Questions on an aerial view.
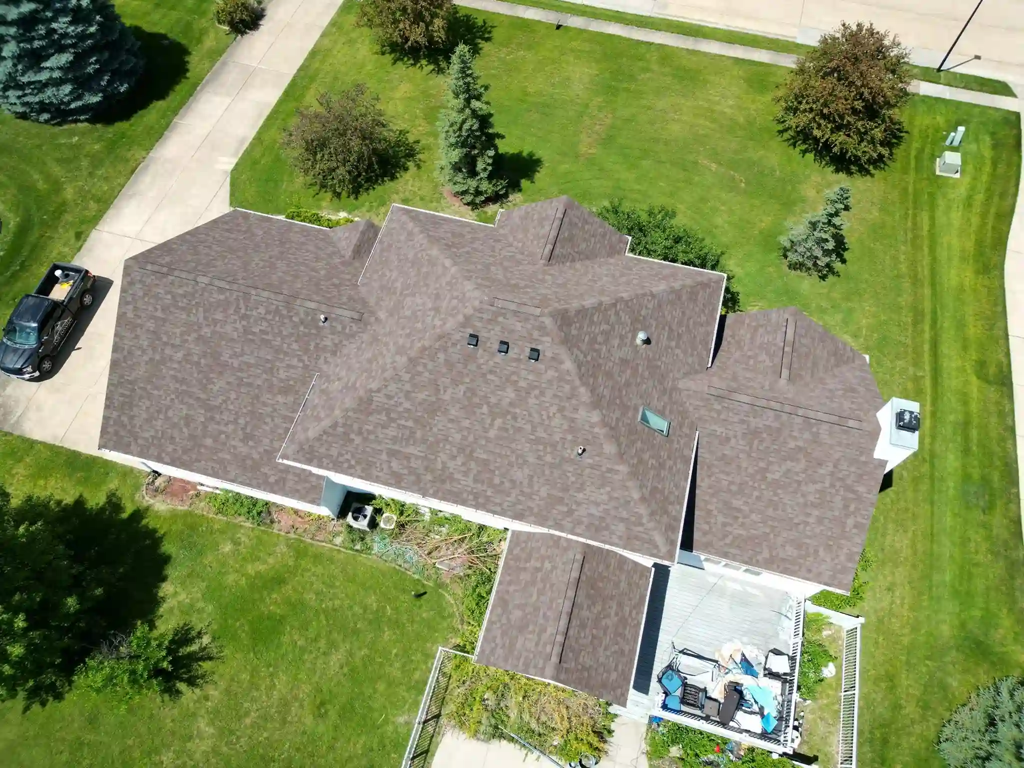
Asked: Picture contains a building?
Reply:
Yes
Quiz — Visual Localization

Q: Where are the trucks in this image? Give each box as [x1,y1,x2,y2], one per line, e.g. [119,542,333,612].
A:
[0,260,102,382]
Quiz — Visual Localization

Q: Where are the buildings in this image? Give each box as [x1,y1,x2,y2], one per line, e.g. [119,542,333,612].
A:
[98,195,921,709]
